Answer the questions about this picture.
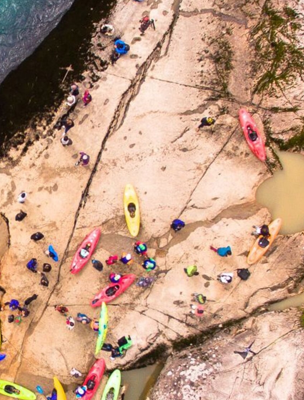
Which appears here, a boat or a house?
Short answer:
boat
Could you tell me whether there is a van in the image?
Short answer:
No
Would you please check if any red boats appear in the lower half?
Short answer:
Yes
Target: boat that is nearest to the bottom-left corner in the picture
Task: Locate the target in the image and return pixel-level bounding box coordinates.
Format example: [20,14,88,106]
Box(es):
[0,380,35,400]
